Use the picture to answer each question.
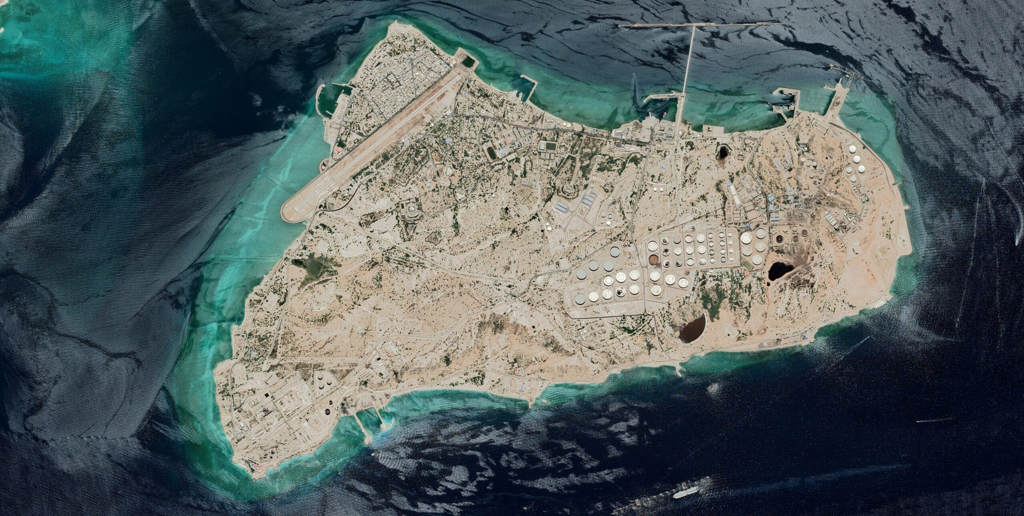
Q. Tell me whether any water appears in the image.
Yes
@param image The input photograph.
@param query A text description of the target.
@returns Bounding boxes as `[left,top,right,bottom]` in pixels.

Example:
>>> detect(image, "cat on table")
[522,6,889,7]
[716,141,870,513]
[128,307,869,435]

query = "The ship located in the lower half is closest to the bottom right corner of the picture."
[673,486,698,499]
